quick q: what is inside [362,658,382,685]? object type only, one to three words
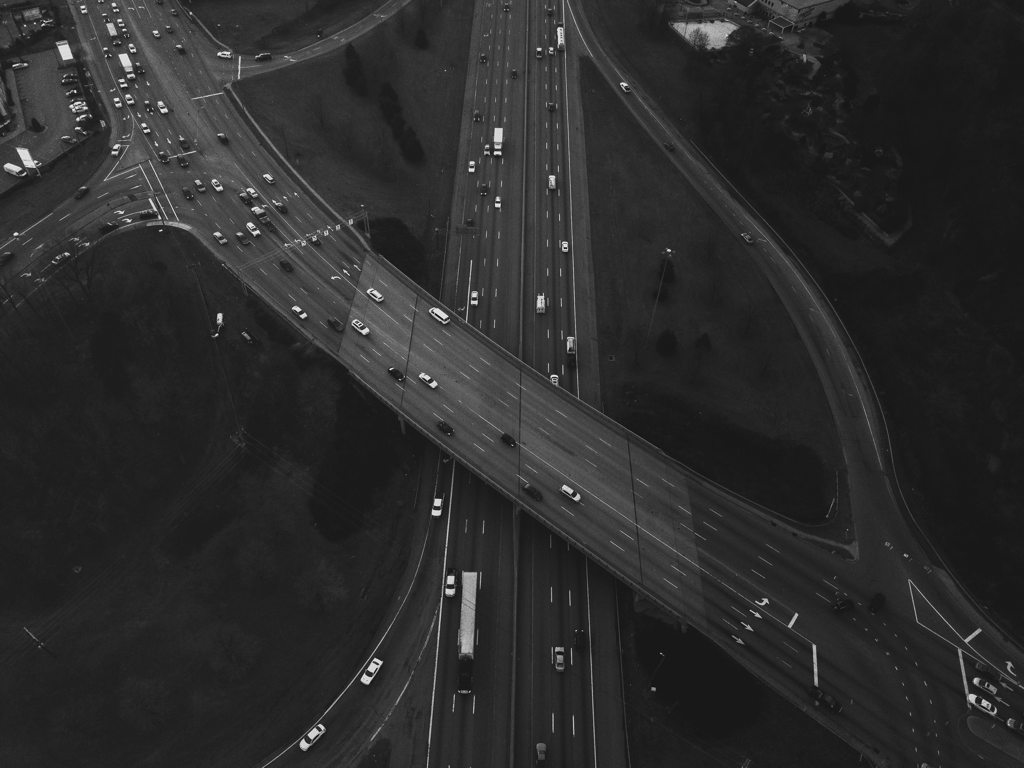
car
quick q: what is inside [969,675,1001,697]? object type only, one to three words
car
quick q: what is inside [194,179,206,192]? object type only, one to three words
vehicle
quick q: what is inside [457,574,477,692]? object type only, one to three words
vehicle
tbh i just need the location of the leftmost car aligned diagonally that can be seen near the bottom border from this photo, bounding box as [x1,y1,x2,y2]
[300,724,326,752]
